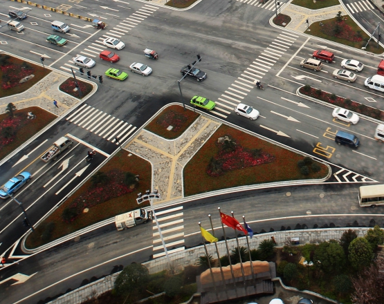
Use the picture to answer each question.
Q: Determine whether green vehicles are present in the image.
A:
Yes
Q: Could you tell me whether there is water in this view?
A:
No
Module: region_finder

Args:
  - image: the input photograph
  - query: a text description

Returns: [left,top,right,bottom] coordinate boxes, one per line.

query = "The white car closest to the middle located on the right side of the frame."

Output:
[233,102,261,122]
